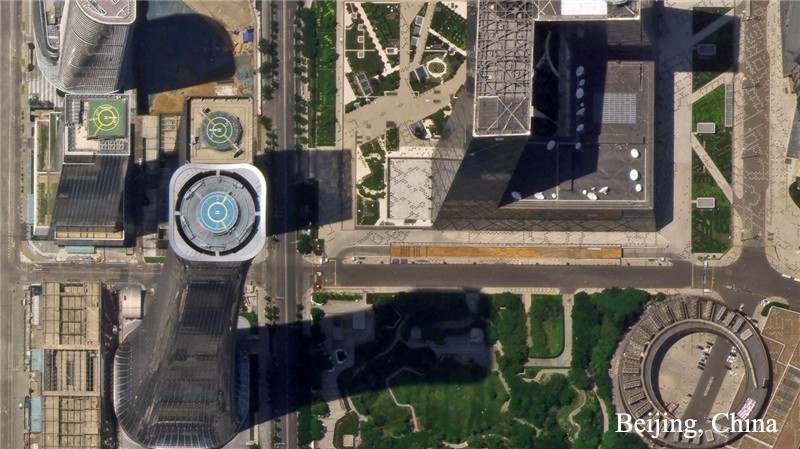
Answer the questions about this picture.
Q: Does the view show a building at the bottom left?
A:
Yes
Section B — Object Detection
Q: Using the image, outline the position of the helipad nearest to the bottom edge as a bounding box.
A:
[199,194,237,231]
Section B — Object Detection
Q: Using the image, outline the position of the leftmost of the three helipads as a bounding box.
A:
[87,97,127,138]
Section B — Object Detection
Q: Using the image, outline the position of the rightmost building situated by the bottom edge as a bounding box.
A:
[616,296,771,449]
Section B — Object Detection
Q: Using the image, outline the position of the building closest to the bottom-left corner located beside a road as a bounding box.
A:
[41,283,102,449]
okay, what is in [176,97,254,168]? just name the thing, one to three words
building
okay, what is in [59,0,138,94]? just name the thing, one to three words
building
